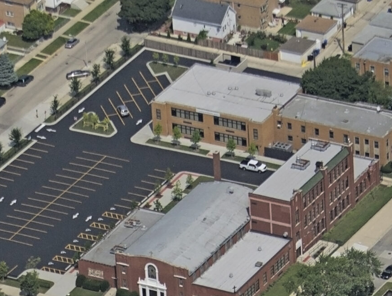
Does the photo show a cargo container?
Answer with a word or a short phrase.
No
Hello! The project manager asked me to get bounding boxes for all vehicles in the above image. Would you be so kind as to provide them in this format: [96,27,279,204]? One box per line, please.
[380,265,392,280]
[0,96,6,106]
[18,75,35,88]
[115,104,130,117]
[63,36,80,50]
[67,70,89,80]
[239,159,267,173]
